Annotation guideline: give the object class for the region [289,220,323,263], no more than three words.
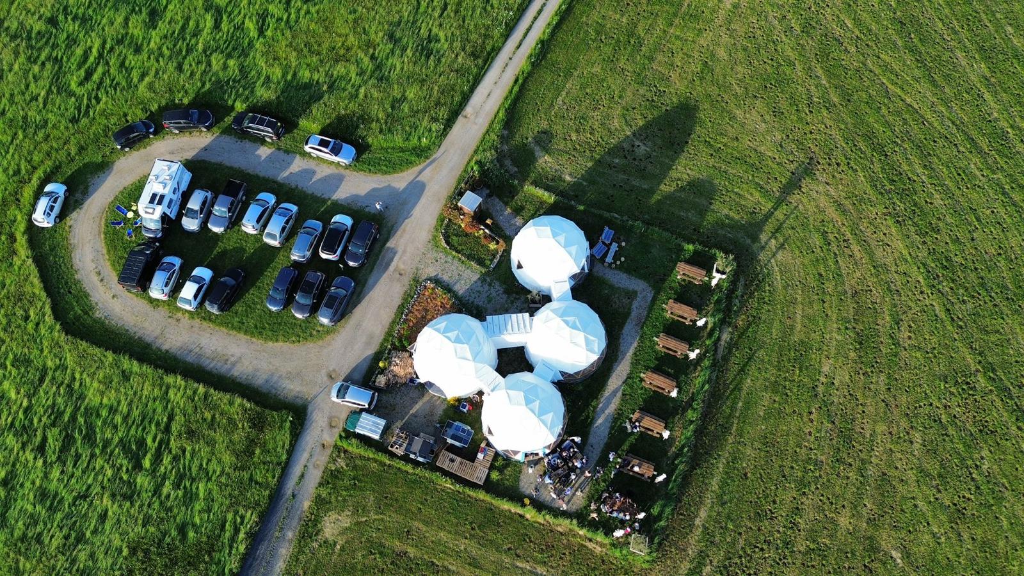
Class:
car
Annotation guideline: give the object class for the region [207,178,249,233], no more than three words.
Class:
truck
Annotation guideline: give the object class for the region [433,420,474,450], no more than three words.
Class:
trailer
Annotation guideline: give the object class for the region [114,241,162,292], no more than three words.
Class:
van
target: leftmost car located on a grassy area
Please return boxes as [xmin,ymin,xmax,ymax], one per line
[29,185,68,228]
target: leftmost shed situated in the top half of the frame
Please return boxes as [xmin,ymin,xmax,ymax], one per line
[458,190,483,223]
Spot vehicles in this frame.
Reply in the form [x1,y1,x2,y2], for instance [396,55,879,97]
[207,178,249,233]
[302,130,358,166]
[319,215,353,260]
[345,220,378,267]
[232,111,286,142]
[263,204,298,248]
[114,241,162,292]
[292,269,327,318]
[317,277,354,325]
[332,380,378,411]
[289,220,323,263]
[241,193,276,234]
[266,266,301,311]
[139,159,194,241]
[149,257,184,300]
[29,185,68,228]
[162,107,216,134]
[203,268,246,315]
[177,267,214,312]
[182,189,215,232]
